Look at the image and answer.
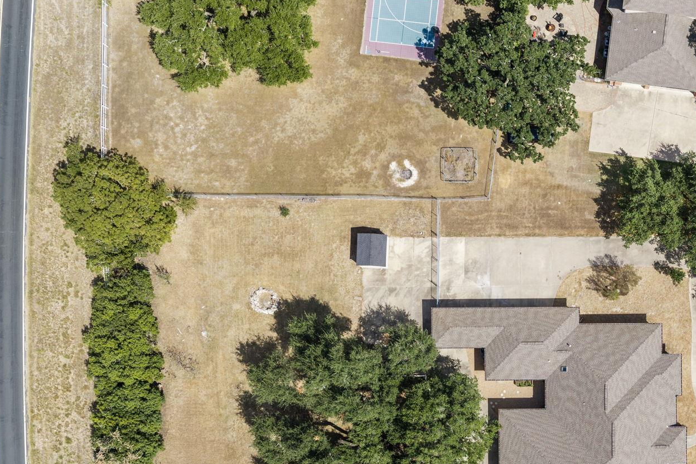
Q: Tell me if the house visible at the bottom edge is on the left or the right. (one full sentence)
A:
You can find the house visible at the bottom edge on the right side of the picture.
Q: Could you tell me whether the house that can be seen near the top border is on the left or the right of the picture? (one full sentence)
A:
The house that can be seen near the top border appears in the right half of the scene.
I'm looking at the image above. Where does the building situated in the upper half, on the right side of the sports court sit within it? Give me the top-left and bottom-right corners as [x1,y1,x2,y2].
[603,0,696,96]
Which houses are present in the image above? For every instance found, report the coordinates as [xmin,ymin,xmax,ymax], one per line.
[431,307,687,464]
[603,0,696,96]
